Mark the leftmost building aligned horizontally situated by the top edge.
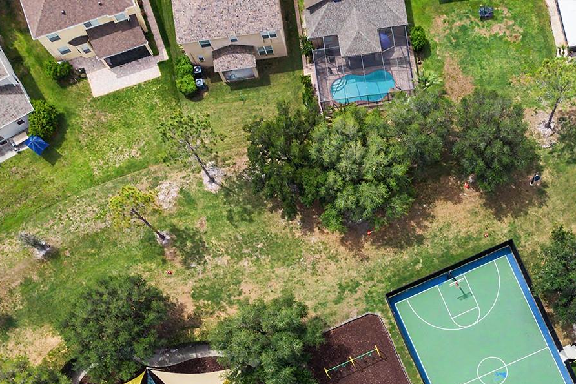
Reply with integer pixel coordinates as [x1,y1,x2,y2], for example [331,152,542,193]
[20,0,157,72]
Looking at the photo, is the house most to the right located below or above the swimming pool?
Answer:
above it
